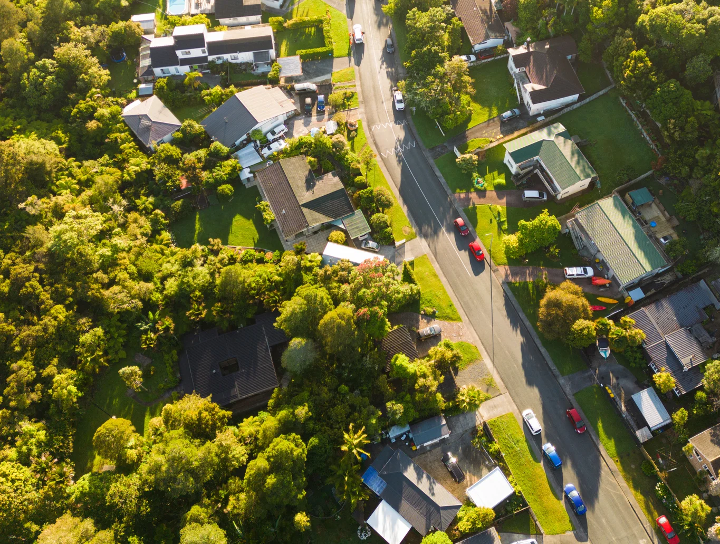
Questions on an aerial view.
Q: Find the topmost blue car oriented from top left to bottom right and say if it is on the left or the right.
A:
right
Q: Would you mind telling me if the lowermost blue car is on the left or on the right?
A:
right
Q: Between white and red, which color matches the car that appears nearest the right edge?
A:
red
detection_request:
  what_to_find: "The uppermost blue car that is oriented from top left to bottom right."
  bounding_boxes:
[542,444,562,469]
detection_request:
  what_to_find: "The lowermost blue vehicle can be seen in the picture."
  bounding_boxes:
[563,485,587,514]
